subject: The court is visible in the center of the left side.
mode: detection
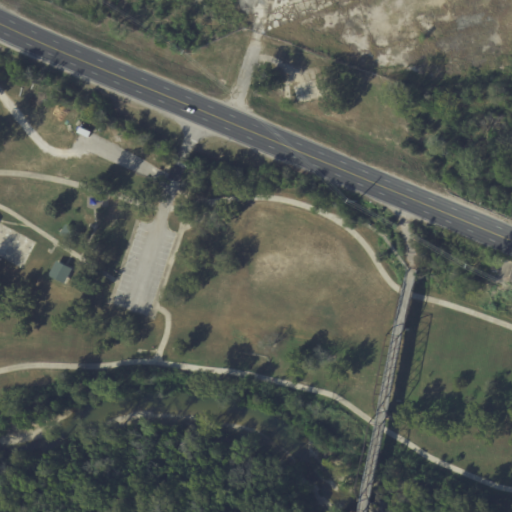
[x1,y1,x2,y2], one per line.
[0,220,36,280]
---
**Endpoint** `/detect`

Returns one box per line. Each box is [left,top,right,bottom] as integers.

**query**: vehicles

[186,106,196,113]
[76,126,92,136]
